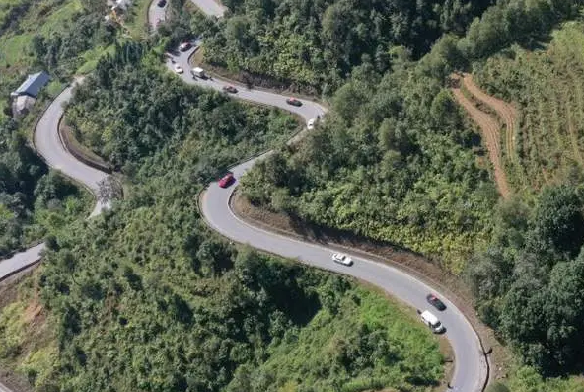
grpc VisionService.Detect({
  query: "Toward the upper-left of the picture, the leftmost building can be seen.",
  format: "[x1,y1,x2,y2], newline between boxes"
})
[17,75,52,106]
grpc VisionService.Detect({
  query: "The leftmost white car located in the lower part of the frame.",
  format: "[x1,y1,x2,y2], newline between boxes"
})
[328,252,352,265]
